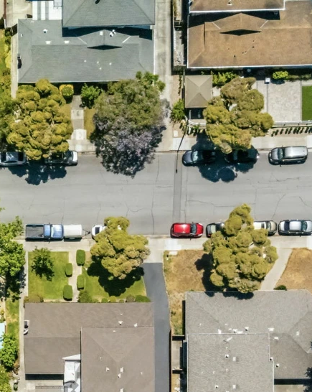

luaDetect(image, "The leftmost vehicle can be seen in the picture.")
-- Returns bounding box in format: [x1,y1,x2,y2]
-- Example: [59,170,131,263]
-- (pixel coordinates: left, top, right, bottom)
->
[0,150,26,167]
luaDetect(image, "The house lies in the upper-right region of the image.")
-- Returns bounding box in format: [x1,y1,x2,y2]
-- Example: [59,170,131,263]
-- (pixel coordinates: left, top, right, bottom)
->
[186,0,312,73]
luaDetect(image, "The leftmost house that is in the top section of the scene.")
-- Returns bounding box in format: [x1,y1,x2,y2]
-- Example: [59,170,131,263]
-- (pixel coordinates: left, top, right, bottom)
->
[16,0,155,87]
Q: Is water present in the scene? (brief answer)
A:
No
